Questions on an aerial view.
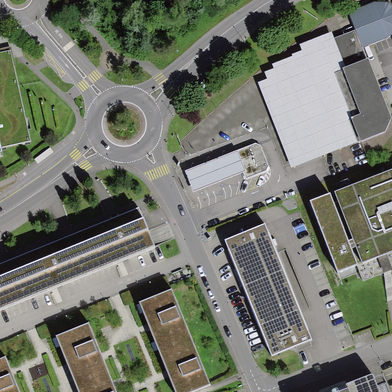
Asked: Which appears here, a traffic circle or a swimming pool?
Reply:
traffic circle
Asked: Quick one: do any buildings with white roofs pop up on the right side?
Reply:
Yes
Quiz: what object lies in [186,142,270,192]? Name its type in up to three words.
building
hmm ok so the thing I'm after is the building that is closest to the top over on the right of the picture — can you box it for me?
[350,0,392,46]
